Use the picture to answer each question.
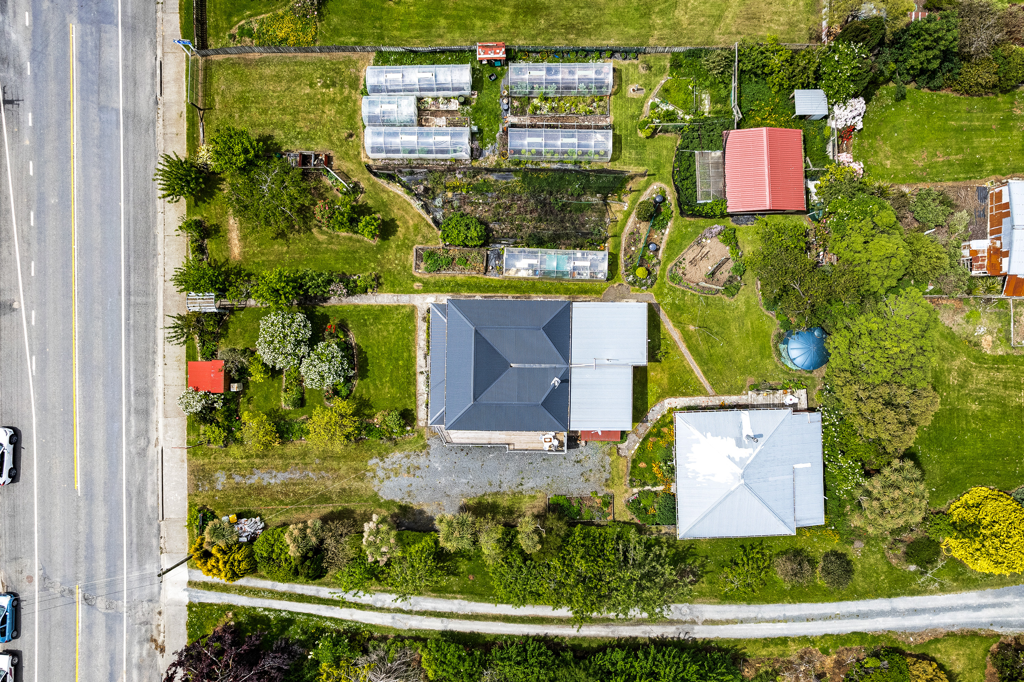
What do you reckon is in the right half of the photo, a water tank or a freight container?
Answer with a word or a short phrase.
water tank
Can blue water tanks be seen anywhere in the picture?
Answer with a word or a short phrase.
Yes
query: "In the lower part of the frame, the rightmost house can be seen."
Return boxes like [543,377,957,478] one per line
[671,406,826,541]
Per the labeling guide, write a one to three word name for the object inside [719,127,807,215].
shed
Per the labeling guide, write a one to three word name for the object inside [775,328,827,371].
water tank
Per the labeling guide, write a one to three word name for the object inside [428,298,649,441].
house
